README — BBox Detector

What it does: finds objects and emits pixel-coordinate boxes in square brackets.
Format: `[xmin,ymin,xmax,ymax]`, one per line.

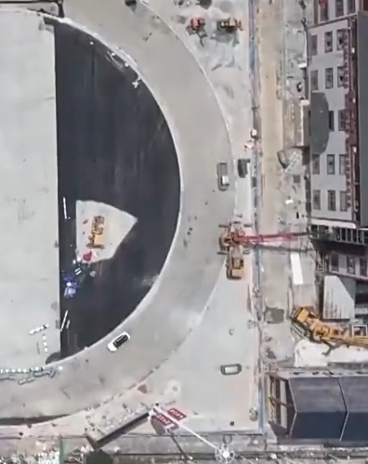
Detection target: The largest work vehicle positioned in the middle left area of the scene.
[88,217,110,253]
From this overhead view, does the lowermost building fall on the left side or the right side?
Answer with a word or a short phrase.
right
